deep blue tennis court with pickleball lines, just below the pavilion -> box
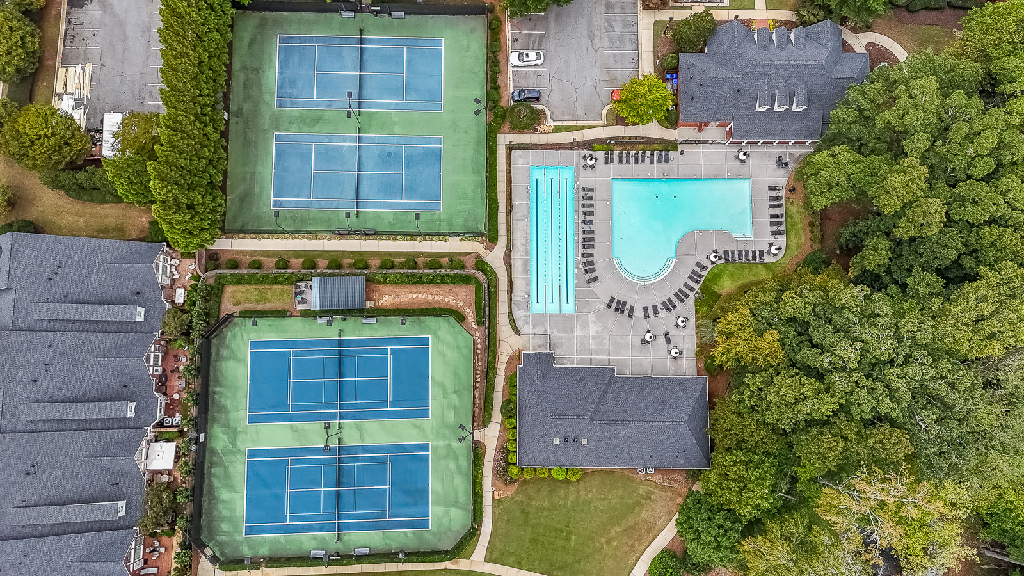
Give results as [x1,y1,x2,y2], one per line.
[205,316,474,436]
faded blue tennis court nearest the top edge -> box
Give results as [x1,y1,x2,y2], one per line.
[229,11,487,122]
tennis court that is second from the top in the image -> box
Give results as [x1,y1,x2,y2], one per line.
[225,120,487,236]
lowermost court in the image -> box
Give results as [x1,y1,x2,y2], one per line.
[201,433,473,562]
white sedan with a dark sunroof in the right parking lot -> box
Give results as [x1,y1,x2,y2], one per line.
[511,50,544,67]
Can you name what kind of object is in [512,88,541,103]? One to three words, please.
car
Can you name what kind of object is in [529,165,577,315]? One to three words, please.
swimming pool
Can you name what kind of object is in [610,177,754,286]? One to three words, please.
swimming pool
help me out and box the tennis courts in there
[229,11,487,122]
[205,316,474,436]
[225,120,487,236]
[201,433,473,562]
